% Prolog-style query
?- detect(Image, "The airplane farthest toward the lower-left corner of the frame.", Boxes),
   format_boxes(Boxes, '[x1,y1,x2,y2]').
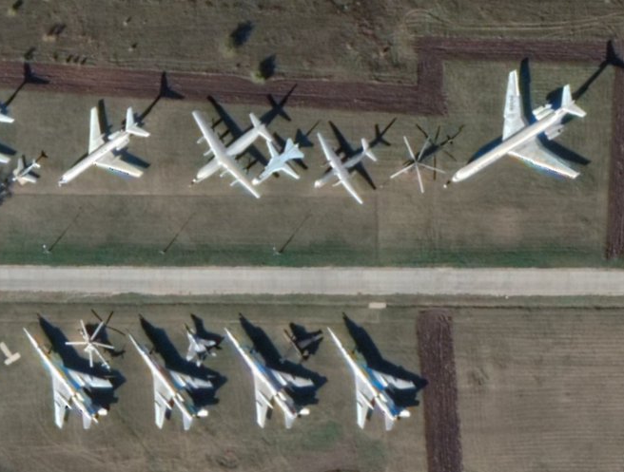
[23,329,113,431]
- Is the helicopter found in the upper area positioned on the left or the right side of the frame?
right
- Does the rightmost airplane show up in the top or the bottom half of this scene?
top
